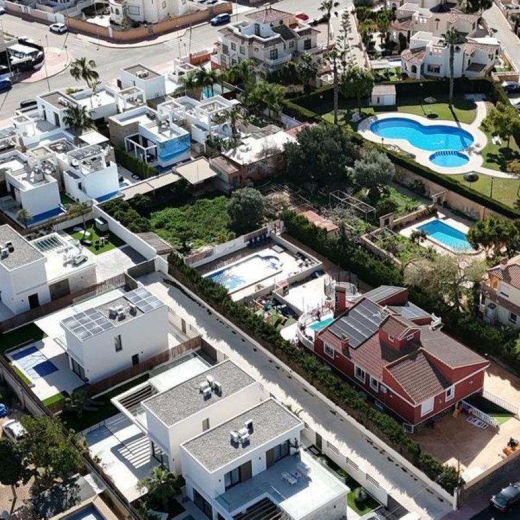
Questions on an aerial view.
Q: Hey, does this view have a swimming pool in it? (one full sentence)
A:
Yes, there is a swimming pool in the image.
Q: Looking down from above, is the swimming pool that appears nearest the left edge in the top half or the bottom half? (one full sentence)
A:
The bottom half of the photo is where the swimming pool that appears nearest the left edge is.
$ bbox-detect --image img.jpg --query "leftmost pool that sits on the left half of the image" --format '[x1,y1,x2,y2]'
[10,342,65,383]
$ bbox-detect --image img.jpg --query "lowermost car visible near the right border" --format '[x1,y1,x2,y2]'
[489,479,520,515]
